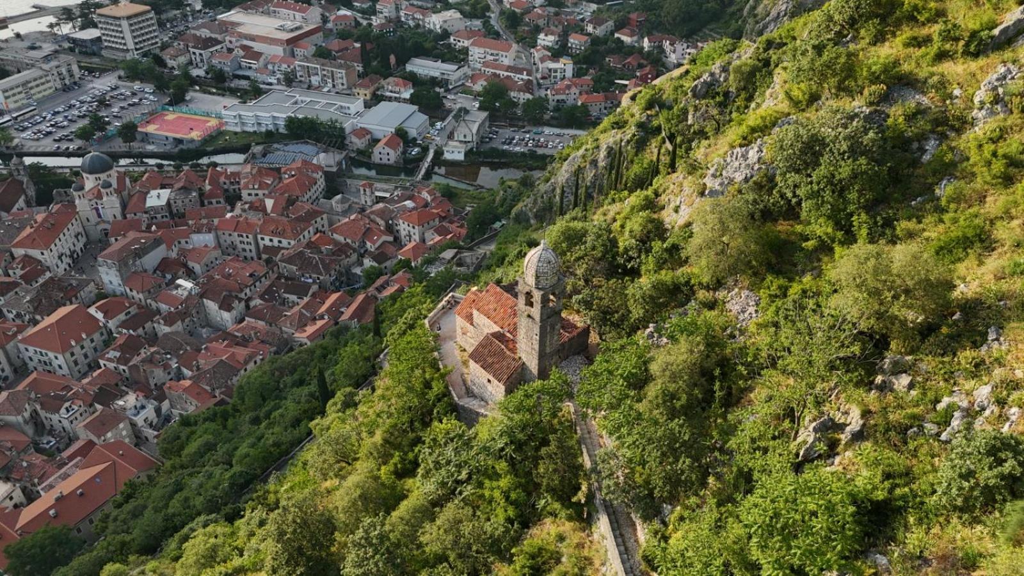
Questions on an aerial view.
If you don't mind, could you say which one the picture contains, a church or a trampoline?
church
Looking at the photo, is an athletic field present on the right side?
No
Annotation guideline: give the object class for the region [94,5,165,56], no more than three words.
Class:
building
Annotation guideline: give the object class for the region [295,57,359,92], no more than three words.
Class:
building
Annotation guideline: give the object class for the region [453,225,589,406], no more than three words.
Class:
church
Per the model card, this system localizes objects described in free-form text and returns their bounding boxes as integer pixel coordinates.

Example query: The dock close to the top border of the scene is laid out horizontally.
[0,2,90,28]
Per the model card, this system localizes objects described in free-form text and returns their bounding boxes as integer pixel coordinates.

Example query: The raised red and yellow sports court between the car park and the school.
[135,107,231,148]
